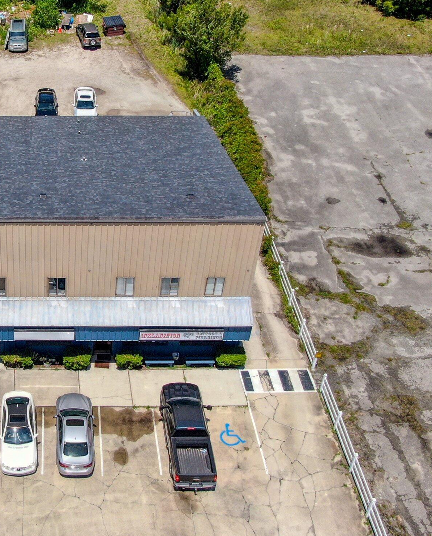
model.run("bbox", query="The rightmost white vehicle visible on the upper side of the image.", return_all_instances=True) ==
[72,89,98,117]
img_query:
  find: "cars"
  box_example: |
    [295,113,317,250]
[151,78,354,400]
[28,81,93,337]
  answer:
[33,90,59,117]
[74,23,101,49]
[53,394,97,475]
[6,19,30,51]
[72,89,98,117]
[0,392,40,476]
